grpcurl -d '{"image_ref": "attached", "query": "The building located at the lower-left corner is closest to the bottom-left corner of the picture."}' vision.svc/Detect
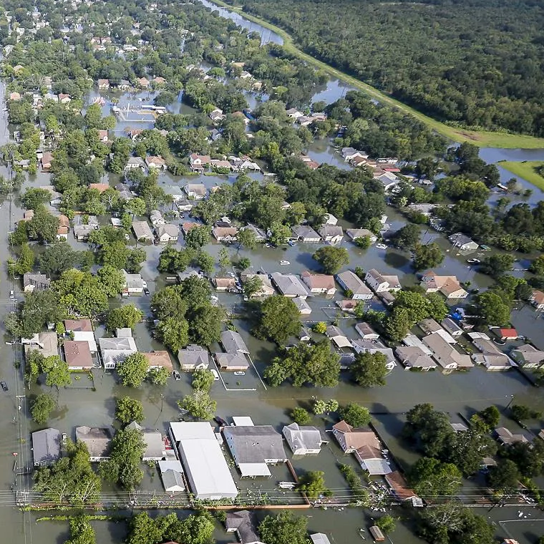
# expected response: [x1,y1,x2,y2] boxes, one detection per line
[31,432,60,467]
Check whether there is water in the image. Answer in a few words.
Yes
